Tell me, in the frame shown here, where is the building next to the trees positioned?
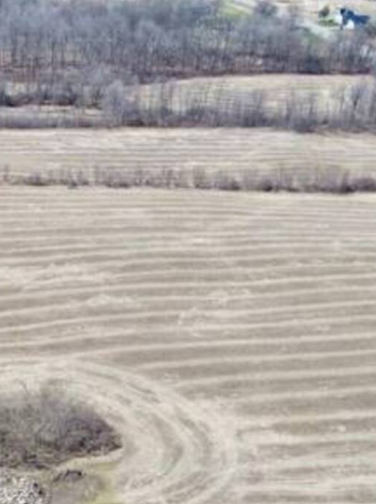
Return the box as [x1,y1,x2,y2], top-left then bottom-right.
[340,10,376,29]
